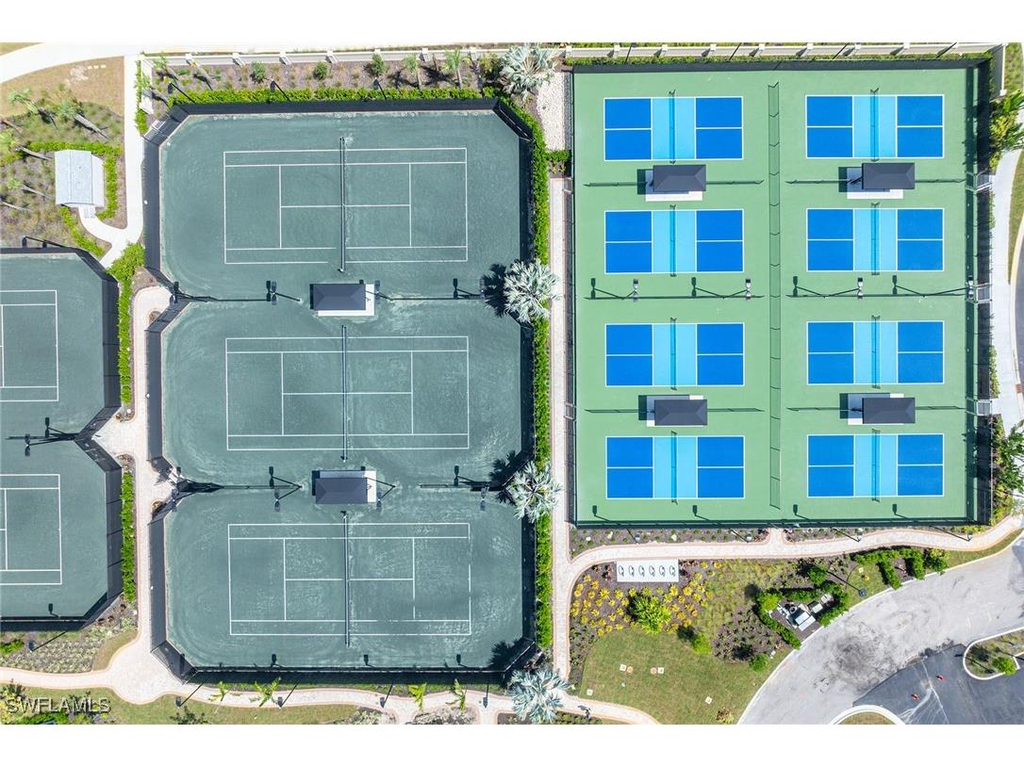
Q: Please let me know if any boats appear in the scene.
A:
No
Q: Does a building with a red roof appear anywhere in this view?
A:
No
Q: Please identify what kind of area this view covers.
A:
sports ground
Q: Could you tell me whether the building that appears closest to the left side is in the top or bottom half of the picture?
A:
top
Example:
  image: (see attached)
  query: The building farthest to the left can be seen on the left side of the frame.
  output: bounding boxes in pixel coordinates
[56,148,104,207]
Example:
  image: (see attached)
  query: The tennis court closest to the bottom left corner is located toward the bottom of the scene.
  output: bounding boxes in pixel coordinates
[0,440,122,620]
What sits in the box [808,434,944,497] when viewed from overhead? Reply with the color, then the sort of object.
blue sports court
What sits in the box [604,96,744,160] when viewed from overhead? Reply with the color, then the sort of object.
blue sports court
